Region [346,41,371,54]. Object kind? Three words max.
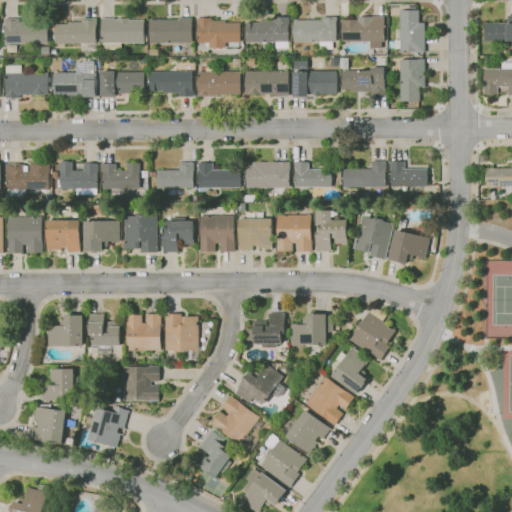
swimming pool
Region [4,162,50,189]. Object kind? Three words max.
house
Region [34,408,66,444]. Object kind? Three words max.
house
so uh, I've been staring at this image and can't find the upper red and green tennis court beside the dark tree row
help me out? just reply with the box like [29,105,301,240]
[486,260,512,338]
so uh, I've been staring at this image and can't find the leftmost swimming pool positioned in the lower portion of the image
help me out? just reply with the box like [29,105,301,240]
[48,348,73,360]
